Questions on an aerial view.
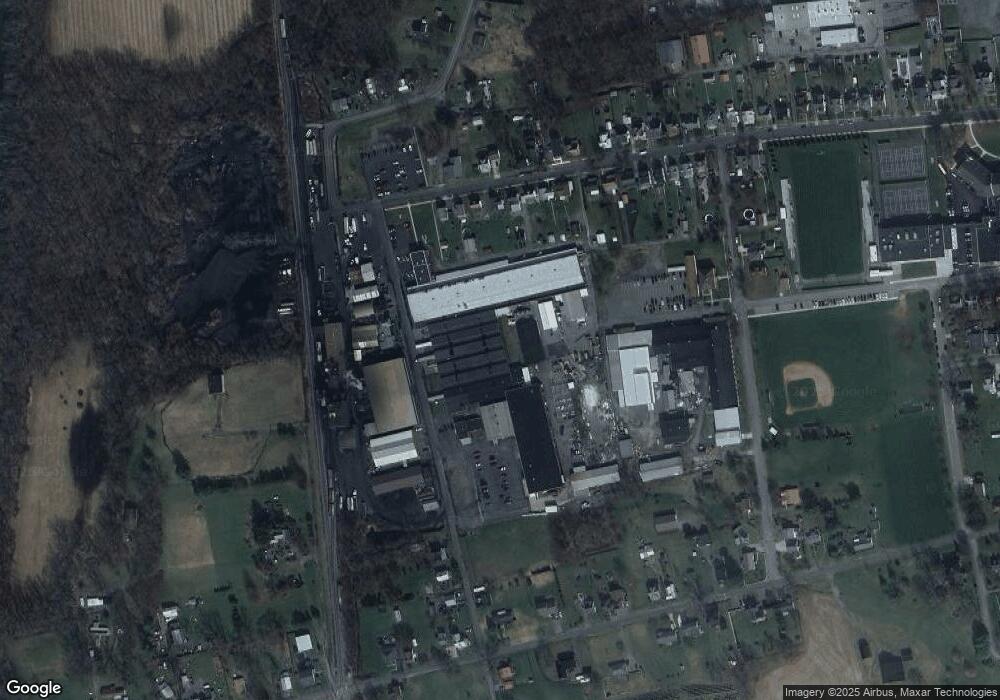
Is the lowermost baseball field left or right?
right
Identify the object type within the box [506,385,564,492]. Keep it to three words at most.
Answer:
building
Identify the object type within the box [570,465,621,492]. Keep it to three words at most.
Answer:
shed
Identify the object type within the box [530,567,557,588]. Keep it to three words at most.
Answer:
house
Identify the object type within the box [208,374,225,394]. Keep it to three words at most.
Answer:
barn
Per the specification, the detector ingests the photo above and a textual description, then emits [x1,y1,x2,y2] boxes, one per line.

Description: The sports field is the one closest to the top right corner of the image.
[778,145,864,277]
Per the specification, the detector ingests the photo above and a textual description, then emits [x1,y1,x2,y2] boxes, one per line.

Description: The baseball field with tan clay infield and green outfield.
[762,319,902,425]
